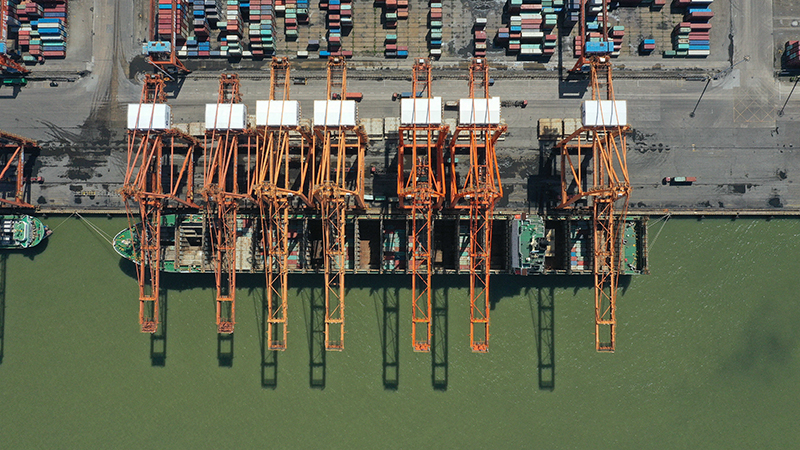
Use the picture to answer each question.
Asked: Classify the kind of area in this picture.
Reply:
port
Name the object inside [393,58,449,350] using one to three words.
container crane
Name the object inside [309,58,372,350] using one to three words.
container crane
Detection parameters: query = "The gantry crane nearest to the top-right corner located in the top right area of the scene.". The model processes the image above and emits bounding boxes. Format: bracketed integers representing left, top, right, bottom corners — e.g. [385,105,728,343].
[563,0,613,74]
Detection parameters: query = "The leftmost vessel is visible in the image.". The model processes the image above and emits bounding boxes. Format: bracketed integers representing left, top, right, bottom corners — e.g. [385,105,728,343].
[0,213,52,247]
